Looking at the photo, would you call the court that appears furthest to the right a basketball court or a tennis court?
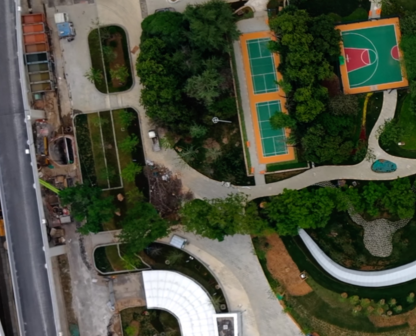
basketball court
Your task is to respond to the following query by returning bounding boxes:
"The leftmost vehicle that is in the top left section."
[51,12,70,40]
